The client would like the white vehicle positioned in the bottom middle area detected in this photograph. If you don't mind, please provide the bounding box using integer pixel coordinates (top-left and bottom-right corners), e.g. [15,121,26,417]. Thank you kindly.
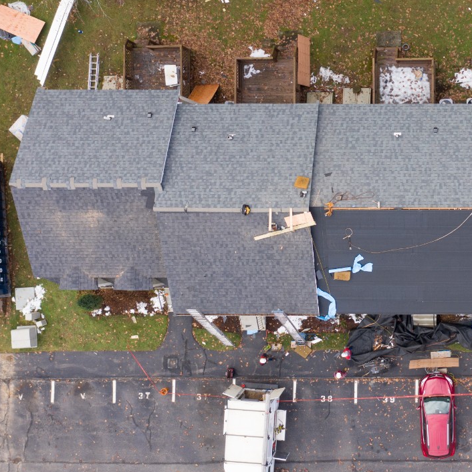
[217,385,290,472]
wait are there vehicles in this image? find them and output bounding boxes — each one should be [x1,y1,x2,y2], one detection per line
[217,385,290,472]
[416,370,459,457]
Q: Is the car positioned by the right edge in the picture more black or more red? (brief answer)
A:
red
